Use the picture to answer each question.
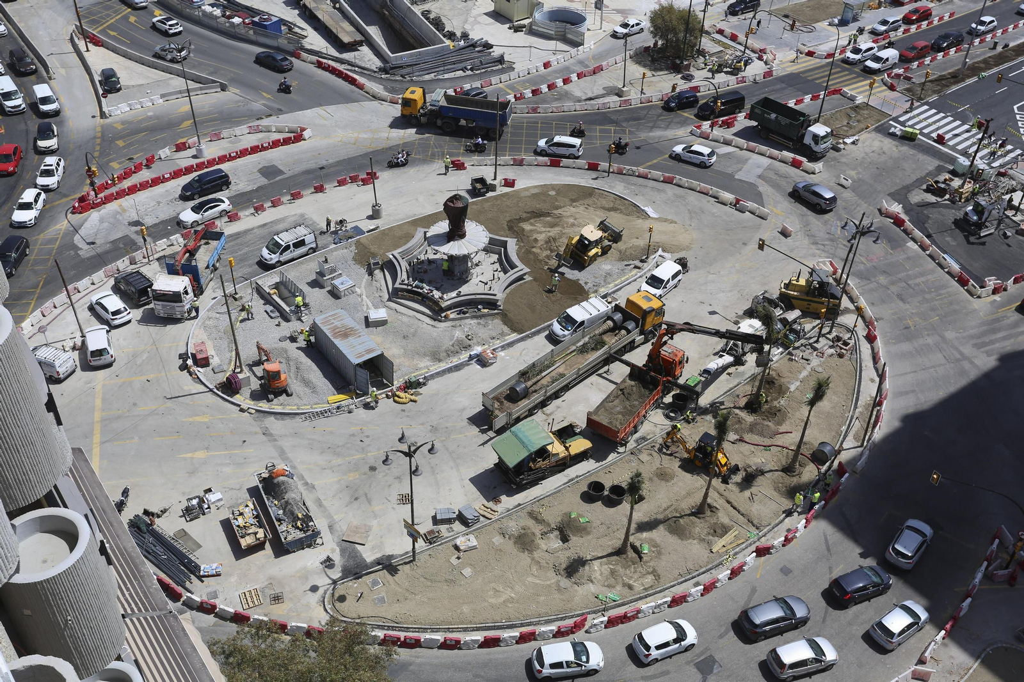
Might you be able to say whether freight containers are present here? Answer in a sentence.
Yes, a freight container can be made out from above.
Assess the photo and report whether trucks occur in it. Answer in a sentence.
Yes, looking at the shot, I can spot a truck.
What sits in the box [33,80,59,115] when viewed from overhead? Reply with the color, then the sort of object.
white vehicle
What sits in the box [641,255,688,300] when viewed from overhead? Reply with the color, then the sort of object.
white van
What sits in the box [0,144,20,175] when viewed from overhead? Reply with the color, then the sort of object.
red car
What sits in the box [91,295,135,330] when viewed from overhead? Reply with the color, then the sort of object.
white car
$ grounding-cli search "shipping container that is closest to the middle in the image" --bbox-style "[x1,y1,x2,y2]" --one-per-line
[310,306,390,390]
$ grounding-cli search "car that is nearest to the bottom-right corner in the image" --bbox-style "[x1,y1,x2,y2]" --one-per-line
[866,602,929,656]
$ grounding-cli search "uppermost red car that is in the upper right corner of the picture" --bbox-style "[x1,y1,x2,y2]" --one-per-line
[901,5,933,25]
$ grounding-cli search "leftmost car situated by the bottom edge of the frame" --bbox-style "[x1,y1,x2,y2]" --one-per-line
[532,642,601,682]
